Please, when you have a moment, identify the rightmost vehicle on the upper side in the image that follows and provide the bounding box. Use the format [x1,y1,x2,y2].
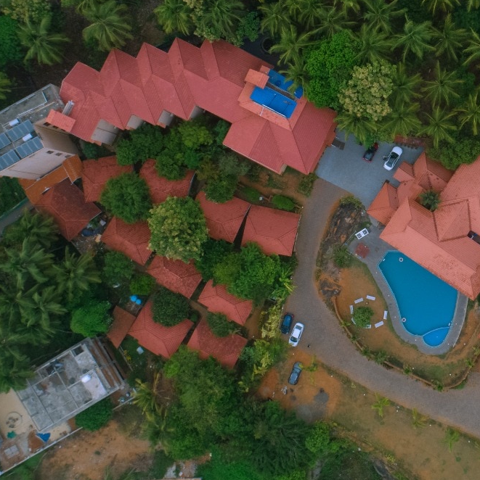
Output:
[384,145,402,170]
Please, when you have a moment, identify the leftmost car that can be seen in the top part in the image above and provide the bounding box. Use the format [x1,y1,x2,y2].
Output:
[361,141,380,163]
